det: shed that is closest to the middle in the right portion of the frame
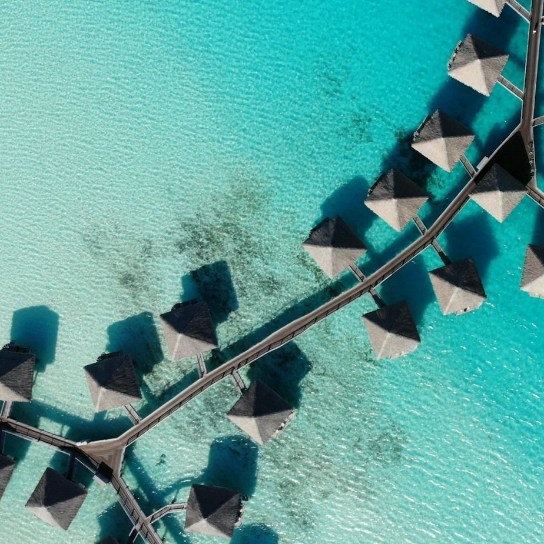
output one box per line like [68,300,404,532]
[302,213,369,280]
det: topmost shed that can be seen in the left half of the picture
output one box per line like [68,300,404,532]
[160,299,220,360]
